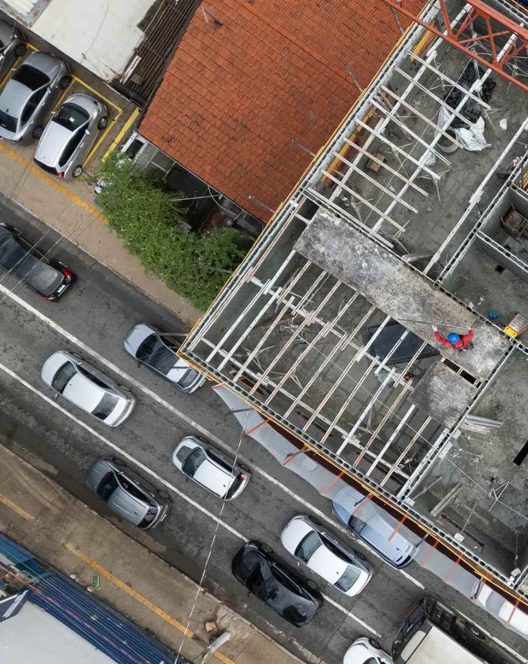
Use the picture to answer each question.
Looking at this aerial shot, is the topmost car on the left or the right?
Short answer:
left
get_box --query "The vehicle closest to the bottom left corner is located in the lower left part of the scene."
[86,456,177,532]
